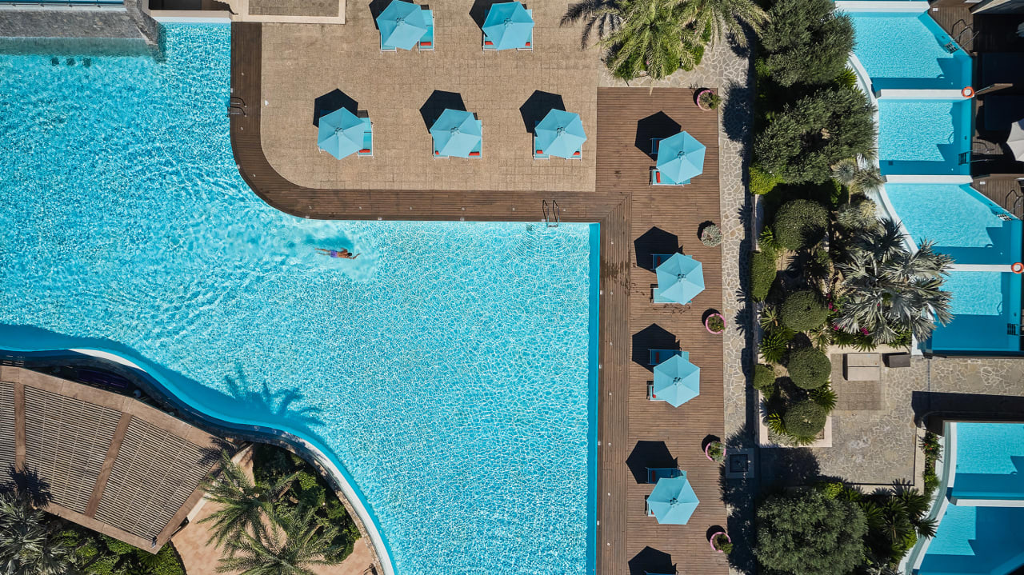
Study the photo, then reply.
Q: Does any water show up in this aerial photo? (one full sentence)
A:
Yes, water shows up in the scene.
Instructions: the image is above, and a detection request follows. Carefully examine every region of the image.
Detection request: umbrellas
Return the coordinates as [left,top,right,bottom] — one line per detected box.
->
[645,474,699,522]
[317,106,366,160]
[429,109,484,159]
[654,132,704,187]
[377,0,429,53]
[482,2,536,53]
[652,251,703,305]
[650,353,698,407]
[533,110,586,162]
